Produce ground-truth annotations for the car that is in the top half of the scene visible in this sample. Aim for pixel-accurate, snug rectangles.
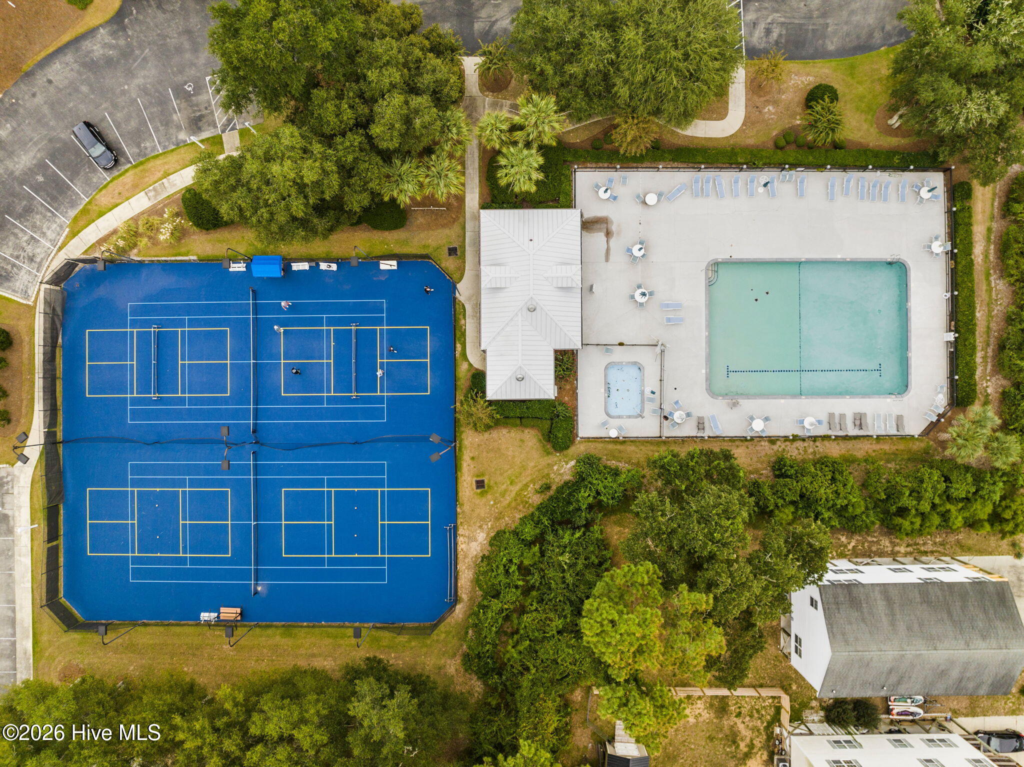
[70,116,118,173]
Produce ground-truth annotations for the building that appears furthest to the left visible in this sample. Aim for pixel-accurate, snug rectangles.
[479,208,583,400]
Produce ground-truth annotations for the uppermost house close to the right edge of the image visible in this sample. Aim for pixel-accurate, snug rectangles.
[780,556,1024,697]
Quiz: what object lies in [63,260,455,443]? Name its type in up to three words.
tennis court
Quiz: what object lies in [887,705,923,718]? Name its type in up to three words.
boat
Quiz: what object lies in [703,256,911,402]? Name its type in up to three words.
swimming pool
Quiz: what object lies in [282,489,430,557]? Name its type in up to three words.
sports court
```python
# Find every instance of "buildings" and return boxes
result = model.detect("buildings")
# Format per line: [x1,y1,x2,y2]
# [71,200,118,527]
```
[780,719,1015,767]
[606,741,649,767]
[780,556,1024,697]
[479,208,583,400]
